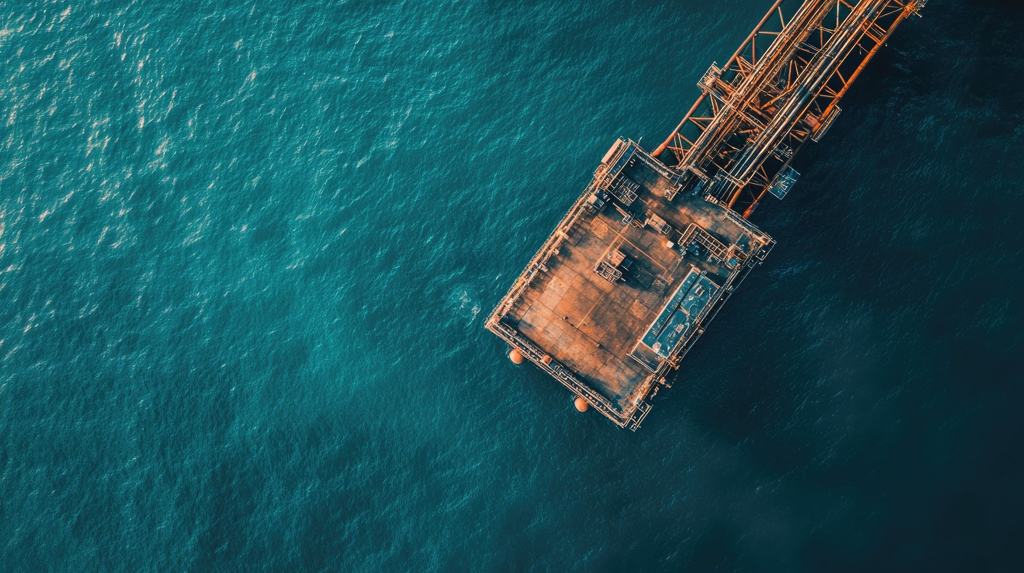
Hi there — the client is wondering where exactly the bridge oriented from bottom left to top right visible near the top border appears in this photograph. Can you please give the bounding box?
[651,0,918,219]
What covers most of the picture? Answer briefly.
water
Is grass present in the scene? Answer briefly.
No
